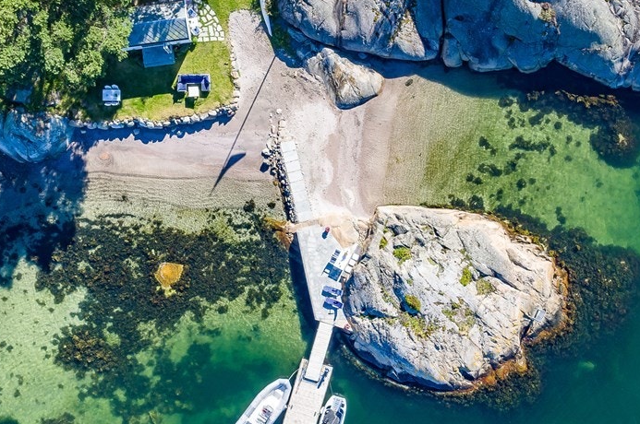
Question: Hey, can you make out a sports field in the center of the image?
No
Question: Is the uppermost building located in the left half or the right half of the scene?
left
